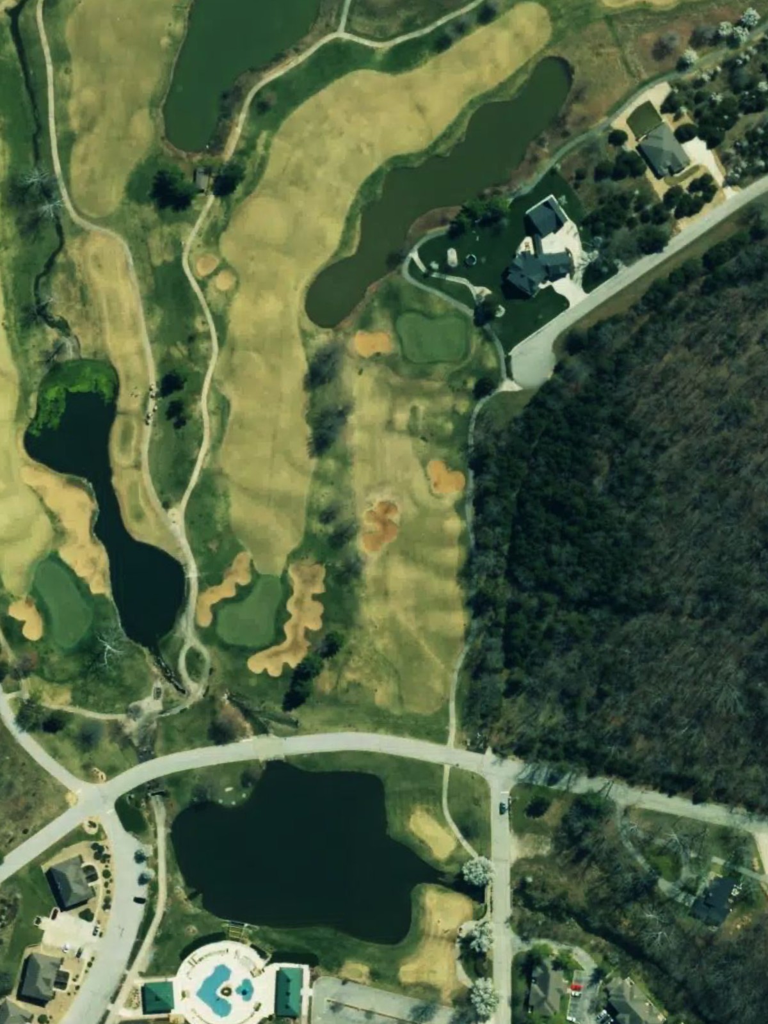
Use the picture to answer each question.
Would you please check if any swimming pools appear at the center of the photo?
No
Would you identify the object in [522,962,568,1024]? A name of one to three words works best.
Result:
house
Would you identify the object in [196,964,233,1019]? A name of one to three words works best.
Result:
swimming pool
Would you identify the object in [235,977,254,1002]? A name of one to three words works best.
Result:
swimming pool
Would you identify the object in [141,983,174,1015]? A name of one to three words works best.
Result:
building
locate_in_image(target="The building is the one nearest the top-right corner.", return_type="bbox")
[639,121,693,179]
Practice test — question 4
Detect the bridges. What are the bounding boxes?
[252,732,292,762]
